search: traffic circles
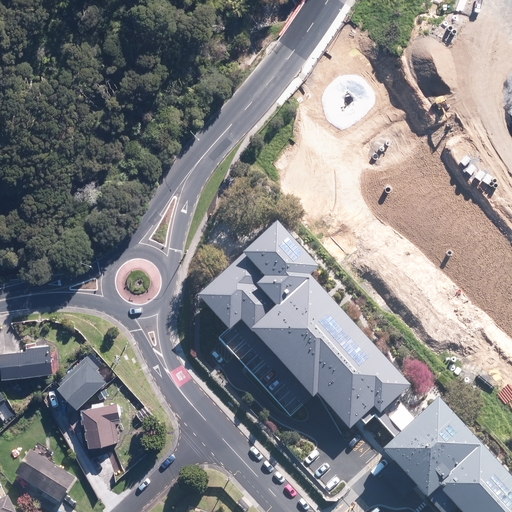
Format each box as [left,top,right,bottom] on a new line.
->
[116,258,162,305]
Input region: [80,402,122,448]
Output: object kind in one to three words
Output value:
house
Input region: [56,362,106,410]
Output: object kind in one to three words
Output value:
house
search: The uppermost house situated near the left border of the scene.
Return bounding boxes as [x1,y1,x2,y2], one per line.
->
[0,344,58,380]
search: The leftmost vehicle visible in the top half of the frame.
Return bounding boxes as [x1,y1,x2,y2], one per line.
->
[436,94,448,118]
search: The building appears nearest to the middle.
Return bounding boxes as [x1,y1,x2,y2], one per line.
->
[199,220,412,428]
